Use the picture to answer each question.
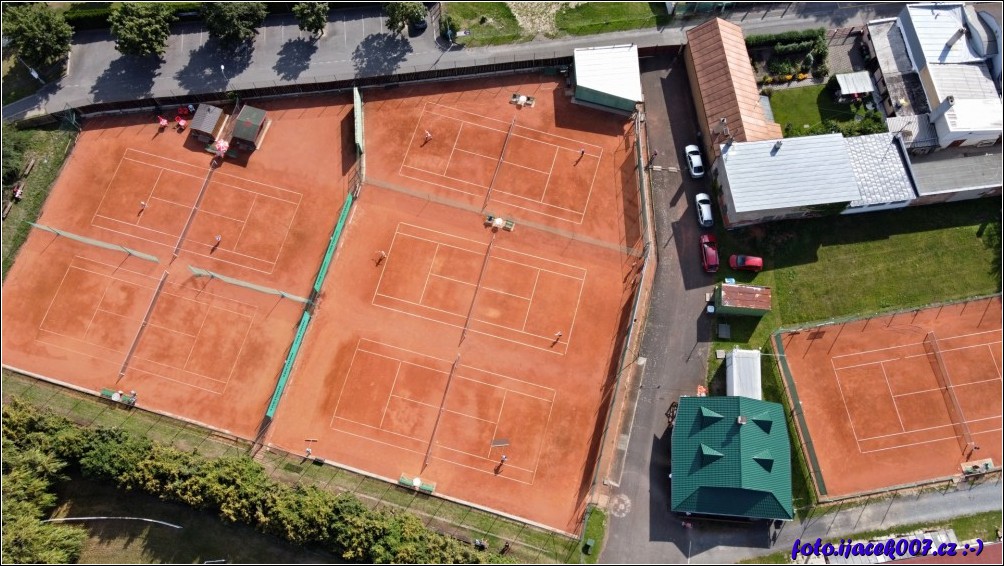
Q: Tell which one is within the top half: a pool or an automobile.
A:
automobile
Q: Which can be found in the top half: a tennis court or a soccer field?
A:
tennis court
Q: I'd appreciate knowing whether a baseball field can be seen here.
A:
No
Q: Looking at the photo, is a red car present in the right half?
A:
Yes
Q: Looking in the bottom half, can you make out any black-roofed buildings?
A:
No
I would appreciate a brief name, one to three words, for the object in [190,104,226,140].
shed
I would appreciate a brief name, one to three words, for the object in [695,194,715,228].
car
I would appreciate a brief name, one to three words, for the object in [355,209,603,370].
tennis court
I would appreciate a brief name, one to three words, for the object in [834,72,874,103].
gazebo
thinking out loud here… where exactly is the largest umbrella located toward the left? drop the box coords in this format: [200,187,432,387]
[211,139,225,154]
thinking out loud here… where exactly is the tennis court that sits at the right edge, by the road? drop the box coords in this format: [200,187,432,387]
[816,318,1004,468]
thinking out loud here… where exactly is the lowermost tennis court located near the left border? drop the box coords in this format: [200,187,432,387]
[18,242,274,409]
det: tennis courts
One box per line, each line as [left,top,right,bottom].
[816,318,1004,468]
[355,209,603,370]
[383,89,619,237]
[75,136,318,287]
[18,242,274,409]
[313,324,574,501]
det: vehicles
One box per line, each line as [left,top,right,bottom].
[685,145,705,179]
[695,194,715,228]
[728,253,764,273]
[171,3,200,21]
[700,235,720,273]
